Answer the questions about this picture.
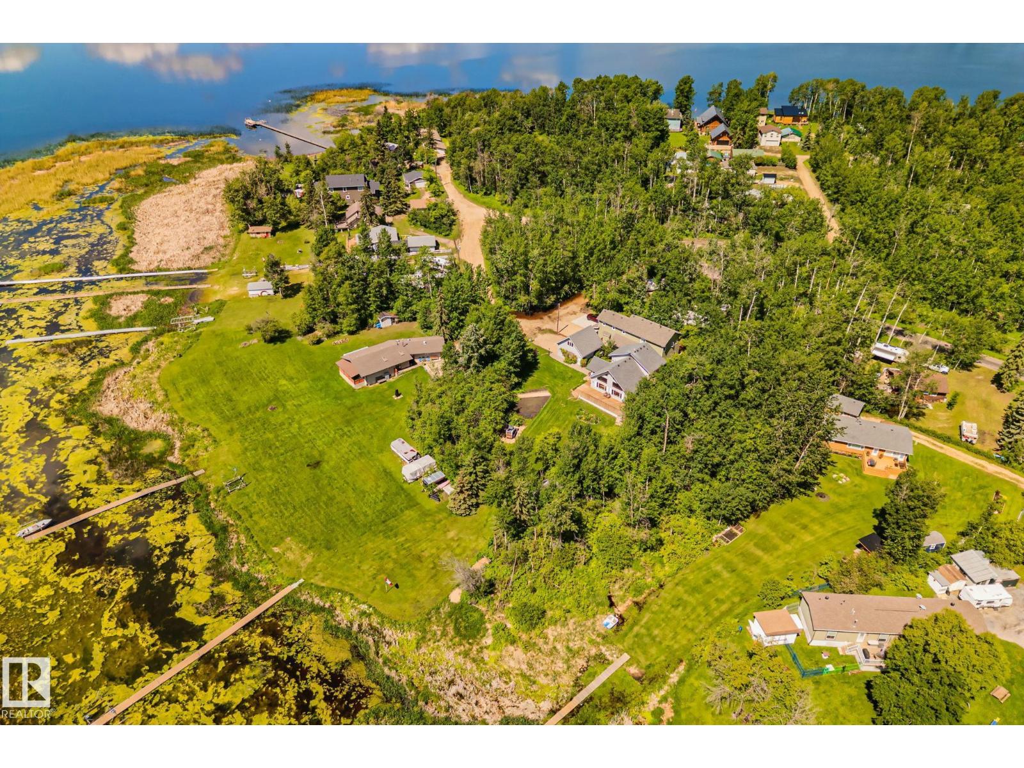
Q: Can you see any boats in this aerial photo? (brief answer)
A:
Yes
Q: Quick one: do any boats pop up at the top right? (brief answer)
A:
No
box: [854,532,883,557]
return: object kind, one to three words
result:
gazebo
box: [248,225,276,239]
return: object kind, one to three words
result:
building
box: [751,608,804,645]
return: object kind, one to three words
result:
shed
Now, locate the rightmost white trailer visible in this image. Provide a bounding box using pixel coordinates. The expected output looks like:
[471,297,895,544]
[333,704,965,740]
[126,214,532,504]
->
[961,584,1012,612]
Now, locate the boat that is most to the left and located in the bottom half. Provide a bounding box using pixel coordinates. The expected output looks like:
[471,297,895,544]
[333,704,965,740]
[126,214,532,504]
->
[13,518,53,539]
